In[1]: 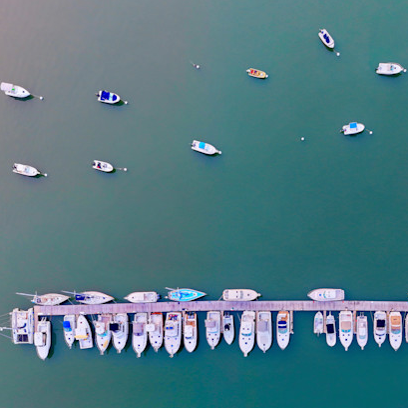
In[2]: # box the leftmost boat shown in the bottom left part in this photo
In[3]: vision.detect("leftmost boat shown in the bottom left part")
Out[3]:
[0,308,34,344]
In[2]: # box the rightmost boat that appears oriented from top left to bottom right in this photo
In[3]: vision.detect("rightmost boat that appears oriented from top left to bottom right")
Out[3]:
[318,29,336,51]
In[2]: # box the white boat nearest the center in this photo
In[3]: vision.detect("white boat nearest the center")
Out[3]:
[190,141,218,155]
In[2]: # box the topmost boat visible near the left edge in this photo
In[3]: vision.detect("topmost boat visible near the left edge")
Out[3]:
[0,81,35,98]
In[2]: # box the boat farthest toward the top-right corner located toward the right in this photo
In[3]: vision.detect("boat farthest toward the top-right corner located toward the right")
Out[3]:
[377,63,404,76]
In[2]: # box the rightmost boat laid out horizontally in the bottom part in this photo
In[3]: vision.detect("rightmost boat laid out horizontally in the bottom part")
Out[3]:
[306,288,345,301]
